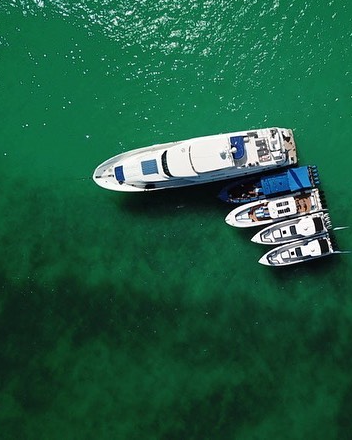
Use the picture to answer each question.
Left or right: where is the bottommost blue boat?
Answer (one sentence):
The bottommost blue boat is on the right side of the image.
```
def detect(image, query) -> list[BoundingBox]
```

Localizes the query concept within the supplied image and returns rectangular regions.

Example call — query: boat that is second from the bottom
[251,212,350,244]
